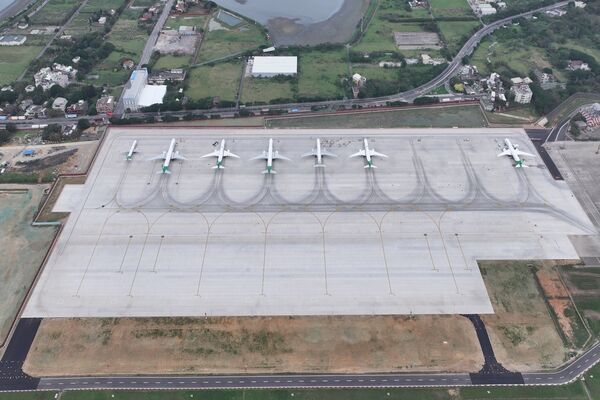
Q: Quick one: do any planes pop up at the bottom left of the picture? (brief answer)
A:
No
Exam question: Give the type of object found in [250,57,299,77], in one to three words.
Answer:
building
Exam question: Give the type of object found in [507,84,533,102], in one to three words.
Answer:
building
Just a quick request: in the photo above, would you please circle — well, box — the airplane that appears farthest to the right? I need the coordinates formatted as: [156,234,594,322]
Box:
[496,138,535,168]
